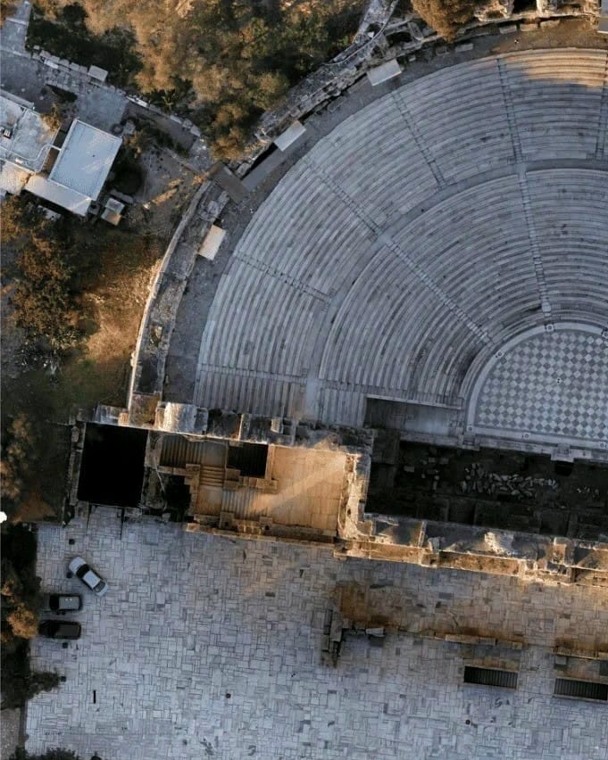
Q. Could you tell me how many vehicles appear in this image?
3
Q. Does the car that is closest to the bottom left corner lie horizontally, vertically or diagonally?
horizontally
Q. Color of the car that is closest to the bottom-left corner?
black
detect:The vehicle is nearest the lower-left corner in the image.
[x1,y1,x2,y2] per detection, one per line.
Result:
[38,619,84,642]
